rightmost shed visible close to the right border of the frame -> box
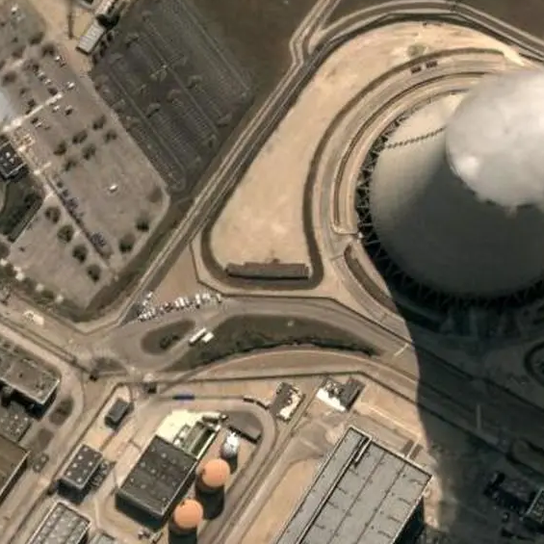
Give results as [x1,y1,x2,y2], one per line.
[526,488,544,526]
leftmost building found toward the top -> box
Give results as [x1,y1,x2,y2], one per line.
[0,142,24,178]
